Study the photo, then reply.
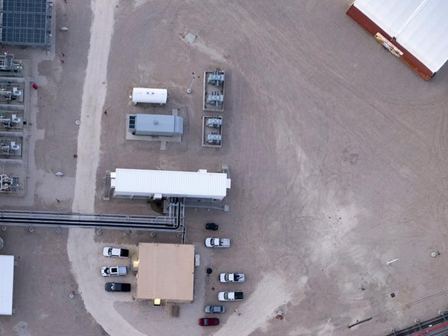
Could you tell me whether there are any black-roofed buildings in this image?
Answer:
No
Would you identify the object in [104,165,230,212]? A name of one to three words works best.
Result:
building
